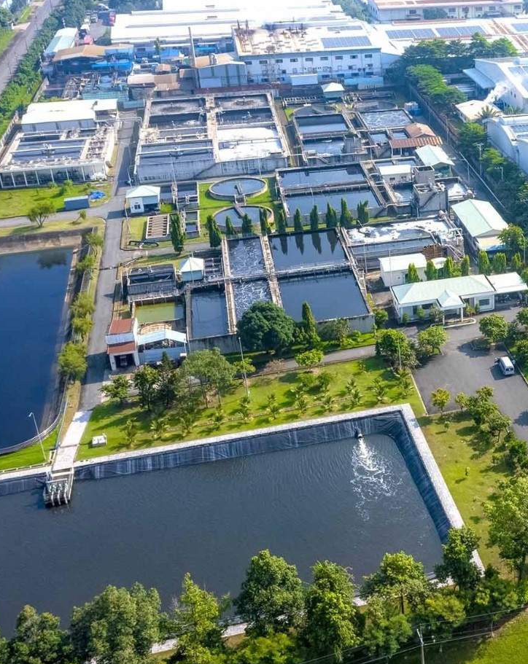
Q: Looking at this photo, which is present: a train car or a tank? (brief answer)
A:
tank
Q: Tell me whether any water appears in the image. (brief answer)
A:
Yes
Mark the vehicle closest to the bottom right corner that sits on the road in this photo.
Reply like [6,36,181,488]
[495,359,512,376]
